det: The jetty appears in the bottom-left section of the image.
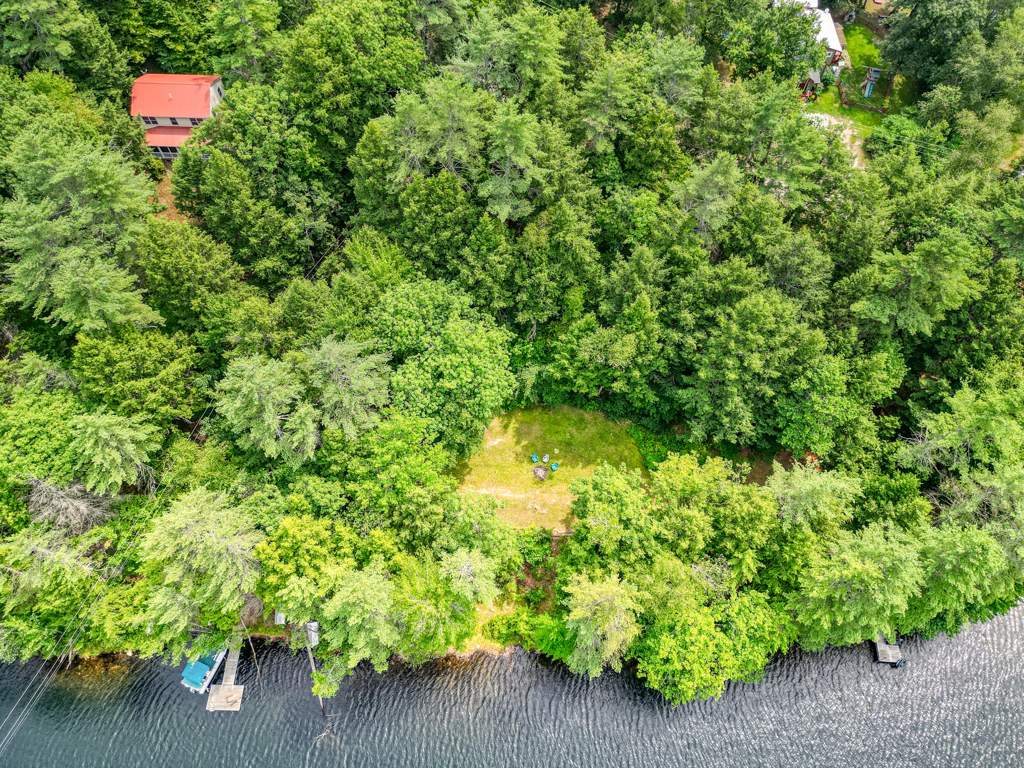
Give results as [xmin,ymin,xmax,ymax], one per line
[204,644,245,712]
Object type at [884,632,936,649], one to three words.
boat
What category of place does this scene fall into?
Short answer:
forest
